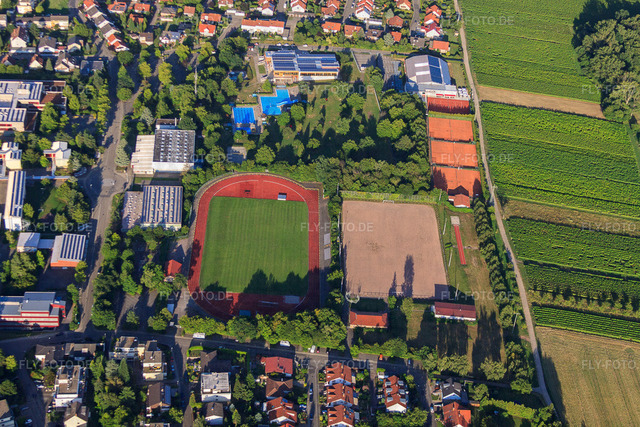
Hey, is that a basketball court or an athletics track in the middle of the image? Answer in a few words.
athletics track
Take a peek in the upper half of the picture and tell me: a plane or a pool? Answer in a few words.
pool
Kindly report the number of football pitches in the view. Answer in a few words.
two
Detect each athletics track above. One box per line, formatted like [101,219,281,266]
[181,171,328,325]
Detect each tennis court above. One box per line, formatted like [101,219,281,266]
[429,118,452,139]
[431,141,455,164]
[433,167,458,193]
[449,99,469,114]
[453,143,478,166]
[456,169,482,196]
[450,119,474,141]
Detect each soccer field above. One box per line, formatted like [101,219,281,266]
[200,196,308,296]
[342,201,448,297]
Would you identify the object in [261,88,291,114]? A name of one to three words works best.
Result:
swimming pool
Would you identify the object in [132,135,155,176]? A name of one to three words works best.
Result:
building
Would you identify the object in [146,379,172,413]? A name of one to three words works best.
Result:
house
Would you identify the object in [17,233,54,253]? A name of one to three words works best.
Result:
building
